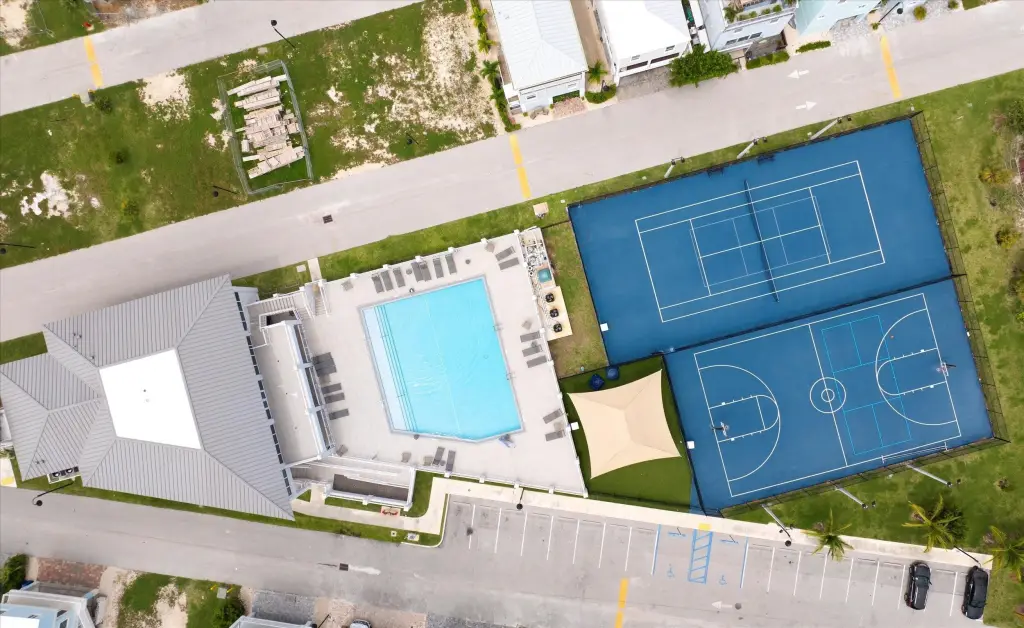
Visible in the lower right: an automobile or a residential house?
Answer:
automobile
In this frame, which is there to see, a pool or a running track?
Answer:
pool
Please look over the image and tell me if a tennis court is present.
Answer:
Yes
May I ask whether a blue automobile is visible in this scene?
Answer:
No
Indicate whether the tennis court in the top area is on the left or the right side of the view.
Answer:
right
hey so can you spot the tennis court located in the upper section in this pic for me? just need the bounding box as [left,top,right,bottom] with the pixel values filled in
[568,118,951,366]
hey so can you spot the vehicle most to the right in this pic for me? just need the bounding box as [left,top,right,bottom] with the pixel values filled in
[961,566,989,617]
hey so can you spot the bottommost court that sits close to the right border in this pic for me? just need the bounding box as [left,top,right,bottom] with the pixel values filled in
[666,279,993,515]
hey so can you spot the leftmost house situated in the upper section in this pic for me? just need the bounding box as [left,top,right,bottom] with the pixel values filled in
[492,0,588,117]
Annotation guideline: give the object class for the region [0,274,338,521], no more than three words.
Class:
building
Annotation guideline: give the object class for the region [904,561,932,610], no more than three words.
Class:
car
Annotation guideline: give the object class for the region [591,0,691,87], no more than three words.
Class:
house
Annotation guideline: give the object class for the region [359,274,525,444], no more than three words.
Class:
swimming pool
